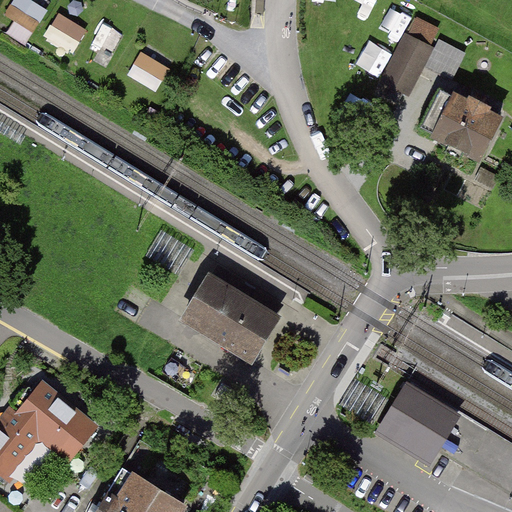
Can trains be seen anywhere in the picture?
Yes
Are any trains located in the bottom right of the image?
Yes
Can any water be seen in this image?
No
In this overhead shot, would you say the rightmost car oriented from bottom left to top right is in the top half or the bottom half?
bottom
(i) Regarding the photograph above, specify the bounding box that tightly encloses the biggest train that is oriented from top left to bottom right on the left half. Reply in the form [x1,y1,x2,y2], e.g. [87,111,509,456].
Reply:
[35,111,272,262]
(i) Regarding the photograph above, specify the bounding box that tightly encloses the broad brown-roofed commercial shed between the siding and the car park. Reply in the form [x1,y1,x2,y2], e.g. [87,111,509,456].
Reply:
[376,381,460,466]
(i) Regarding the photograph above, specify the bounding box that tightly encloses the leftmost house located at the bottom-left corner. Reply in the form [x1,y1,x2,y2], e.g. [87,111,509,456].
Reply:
[0,380,98,496]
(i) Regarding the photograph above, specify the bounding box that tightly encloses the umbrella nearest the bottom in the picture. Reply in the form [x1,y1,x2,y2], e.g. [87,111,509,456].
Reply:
[8,490,23,505]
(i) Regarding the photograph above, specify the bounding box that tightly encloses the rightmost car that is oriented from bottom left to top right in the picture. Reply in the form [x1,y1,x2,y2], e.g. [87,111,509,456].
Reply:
[430,455,450,478]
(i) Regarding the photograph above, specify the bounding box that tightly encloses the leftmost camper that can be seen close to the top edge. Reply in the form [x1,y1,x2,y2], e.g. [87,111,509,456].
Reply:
[92,22,112,52]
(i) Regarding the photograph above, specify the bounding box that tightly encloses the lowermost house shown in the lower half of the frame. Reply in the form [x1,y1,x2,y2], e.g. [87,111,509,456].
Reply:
[102,468,188,512]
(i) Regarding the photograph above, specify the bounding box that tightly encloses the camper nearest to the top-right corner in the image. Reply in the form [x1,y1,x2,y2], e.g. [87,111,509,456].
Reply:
[388,12,412,46]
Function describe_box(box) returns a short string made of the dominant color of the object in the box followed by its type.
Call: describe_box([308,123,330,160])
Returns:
white camper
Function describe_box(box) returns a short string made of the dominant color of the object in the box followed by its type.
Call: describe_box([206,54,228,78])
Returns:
white car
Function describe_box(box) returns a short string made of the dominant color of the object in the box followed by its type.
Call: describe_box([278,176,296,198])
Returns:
white car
